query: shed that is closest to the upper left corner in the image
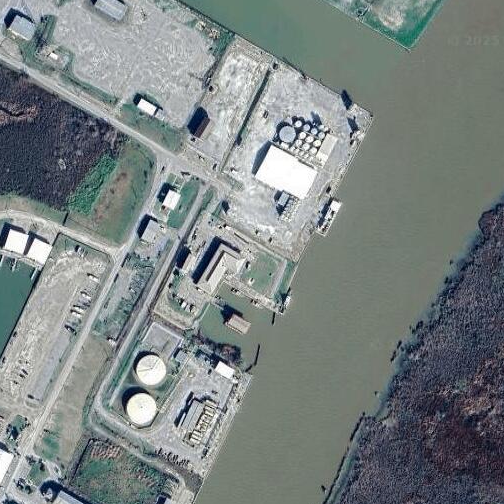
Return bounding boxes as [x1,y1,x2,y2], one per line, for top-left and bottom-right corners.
[8,15,35,39]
